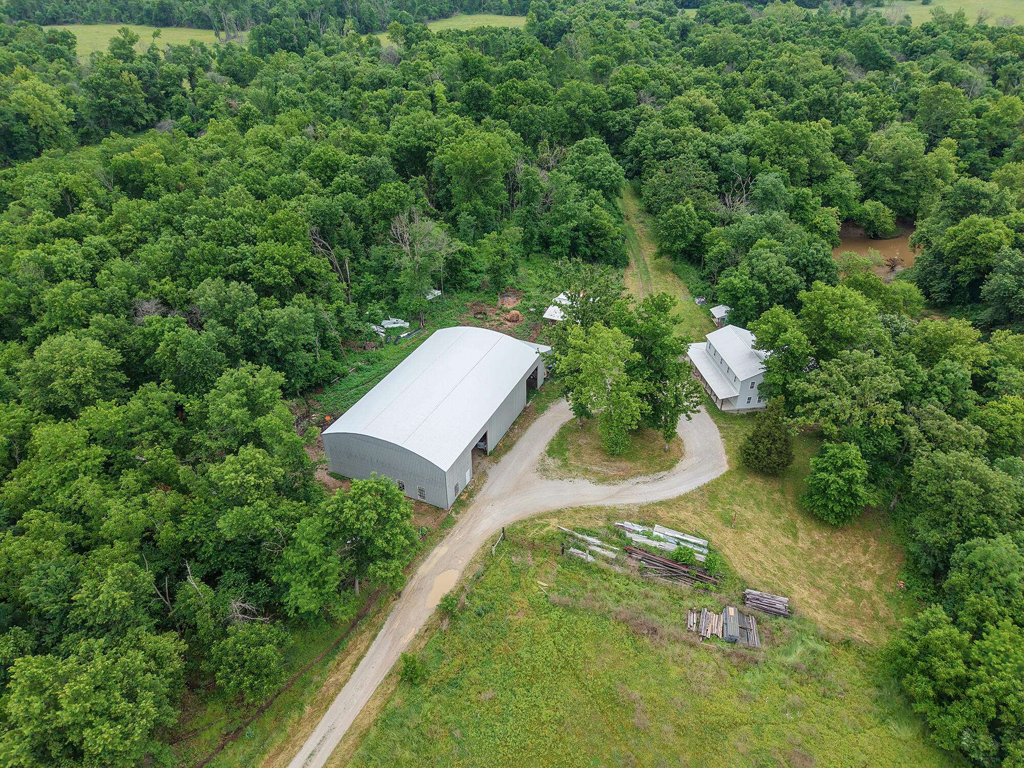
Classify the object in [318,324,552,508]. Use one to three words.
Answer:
barn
